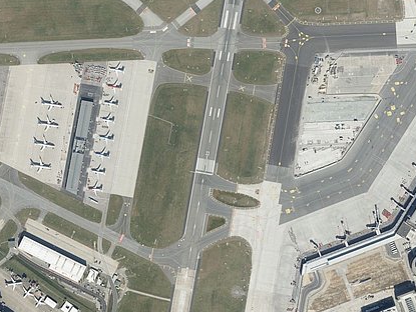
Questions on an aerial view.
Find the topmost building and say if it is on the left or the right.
left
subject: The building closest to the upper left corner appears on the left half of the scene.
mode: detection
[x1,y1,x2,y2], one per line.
[65,93,96,198]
